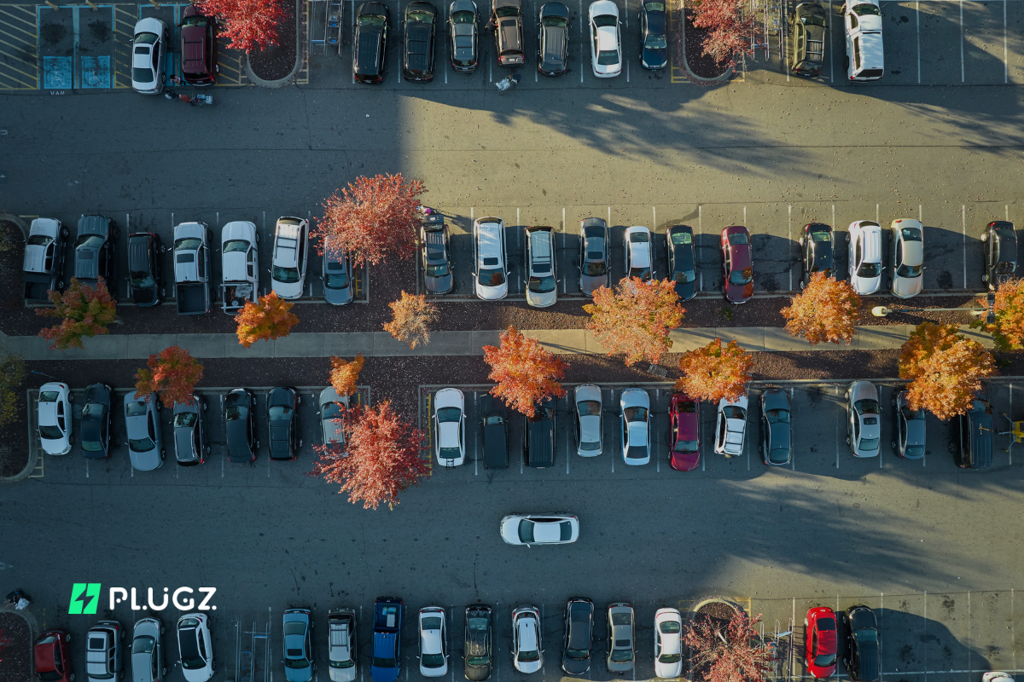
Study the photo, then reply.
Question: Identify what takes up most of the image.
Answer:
paved ground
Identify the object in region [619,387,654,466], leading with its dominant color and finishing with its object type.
blue car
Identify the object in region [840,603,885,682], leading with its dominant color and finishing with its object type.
black car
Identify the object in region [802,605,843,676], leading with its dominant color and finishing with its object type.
red car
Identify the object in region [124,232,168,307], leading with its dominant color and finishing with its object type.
black car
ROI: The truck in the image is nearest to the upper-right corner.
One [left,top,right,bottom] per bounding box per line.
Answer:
[843,0,891,85]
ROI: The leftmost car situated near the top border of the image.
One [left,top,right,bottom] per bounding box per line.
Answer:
[127,19,169,95]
